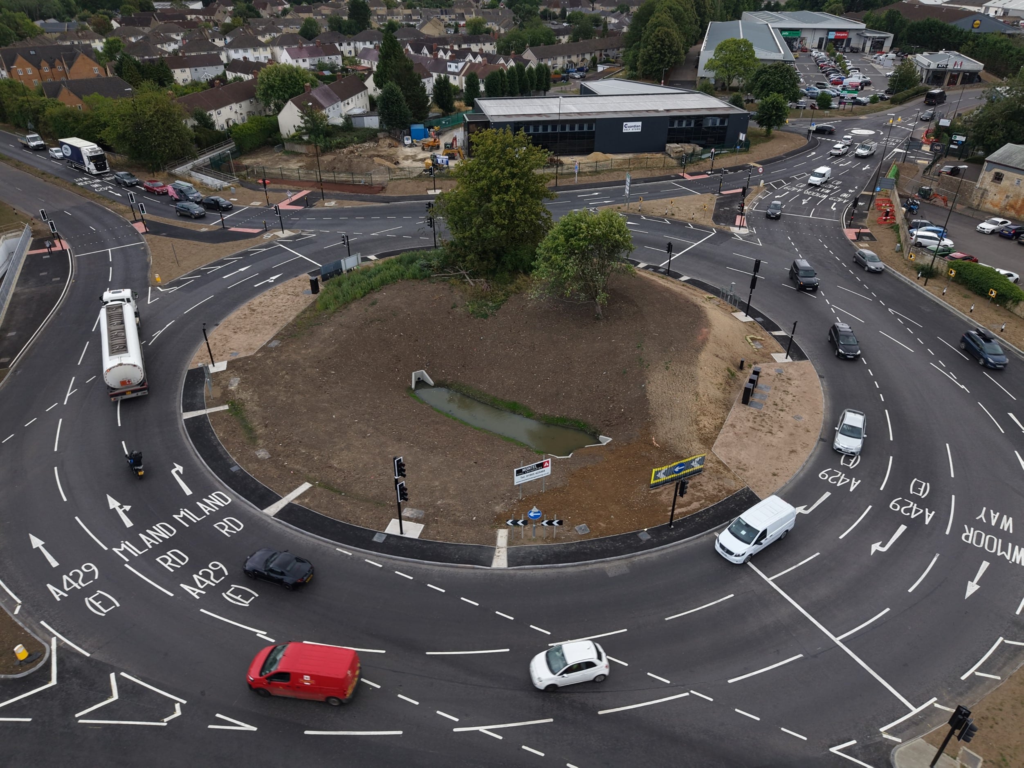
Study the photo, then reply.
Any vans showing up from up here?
Yes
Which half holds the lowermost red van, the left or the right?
left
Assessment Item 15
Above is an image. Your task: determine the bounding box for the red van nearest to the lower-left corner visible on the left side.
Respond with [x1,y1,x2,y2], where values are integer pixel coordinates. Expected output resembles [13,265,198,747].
[248,642,366,707]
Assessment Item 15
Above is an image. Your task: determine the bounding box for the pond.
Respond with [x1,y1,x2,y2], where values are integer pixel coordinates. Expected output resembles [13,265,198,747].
[415,387,599,456]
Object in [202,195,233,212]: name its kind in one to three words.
car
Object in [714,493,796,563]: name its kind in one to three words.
van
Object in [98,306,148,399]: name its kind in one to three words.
truck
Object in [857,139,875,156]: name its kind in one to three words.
vehicle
